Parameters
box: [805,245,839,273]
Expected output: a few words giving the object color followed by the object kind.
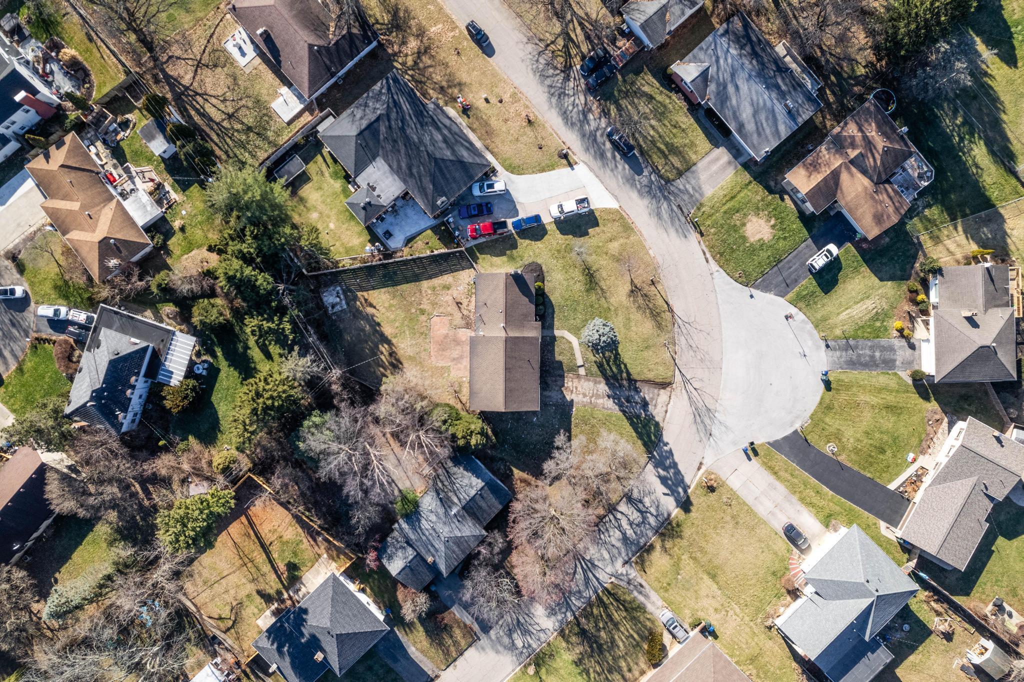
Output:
white car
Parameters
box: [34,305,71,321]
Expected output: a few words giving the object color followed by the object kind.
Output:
white car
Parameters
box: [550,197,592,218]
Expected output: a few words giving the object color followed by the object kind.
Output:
white truck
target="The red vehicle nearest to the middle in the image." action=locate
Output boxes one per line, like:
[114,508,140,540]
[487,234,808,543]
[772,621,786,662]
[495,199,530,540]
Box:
[467,220,507,239]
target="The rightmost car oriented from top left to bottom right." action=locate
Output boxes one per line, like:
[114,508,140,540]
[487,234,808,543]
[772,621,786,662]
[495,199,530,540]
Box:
[782,519,807,551]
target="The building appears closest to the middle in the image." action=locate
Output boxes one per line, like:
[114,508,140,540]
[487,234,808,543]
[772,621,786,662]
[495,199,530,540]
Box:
[469,270,542,412]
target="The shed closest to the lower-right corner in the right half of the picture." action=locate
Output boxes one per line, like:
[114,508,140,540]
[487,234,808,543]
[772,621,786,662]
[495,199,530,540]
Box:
[968,638,1012,682]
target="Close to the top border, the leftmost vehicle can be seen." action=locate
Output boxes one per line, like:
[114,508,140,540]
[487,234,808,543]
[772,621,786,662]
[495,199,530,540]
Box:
[466,16,490,52]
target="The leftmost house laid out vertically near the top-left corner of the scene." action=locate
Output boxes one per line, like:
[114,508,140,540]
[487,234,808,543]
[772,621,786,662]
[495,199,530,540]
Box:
[0,32,67,169]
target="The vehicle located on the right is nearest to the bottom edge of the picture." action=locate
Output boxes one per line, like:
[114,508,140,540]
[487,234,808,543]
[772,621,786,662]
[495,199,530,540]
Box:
[659,608,688,644]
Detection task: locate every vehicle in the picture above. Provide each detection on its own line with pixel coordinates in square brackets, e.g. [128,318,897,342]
[659,608,688,644]
[782,519,807,551]
[0,284,28,300]
[511,215,542,231]
[471,180,506,197]
[67,309,95,328]
[582,62,619,91]
[34,305,71,321]
[550,197,592,218]
[466,16,490,52]
[458,202,493,219]
[576,47,611,76]
[64,325,89,344]
[467,220,507,239]
[805,245,839,273]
